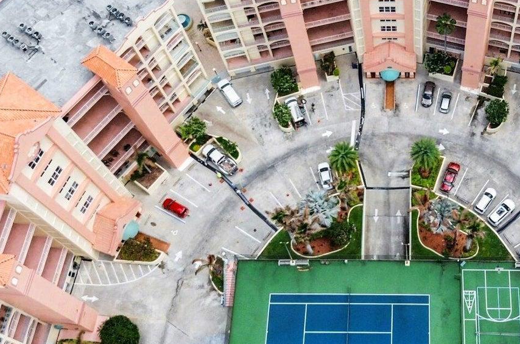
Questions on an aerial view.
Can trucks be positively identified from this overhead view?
Yes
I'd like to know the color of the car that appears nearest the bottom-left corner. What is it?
red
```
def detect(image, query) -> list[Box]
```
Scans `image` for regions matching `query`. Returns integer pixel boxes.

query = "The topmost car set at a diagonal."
[217,79,243,107]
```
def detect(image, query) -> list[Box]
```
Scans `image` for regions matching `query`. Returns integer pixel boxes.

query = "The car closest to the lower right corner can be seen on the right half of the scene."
[489,199,515,228]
